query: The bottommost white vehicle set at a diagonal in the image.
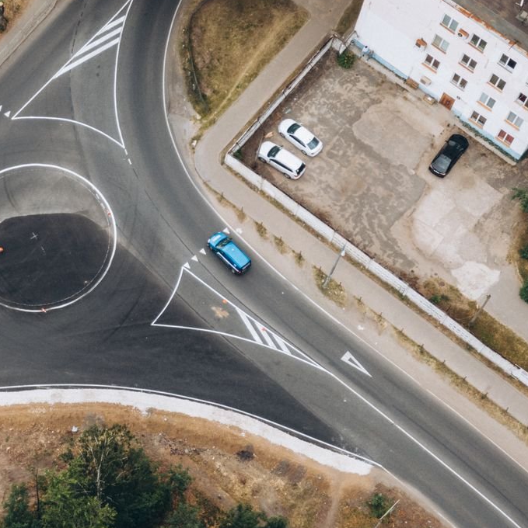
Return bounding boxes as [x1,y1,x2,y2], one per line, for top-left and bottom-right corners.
[255,141,307,180]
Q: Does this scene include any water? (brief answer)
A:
No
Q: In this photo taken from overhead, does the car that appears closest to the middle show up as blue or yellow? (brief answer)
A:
blue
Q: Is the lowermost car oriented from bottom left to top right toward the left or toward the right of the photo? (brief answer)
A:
right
